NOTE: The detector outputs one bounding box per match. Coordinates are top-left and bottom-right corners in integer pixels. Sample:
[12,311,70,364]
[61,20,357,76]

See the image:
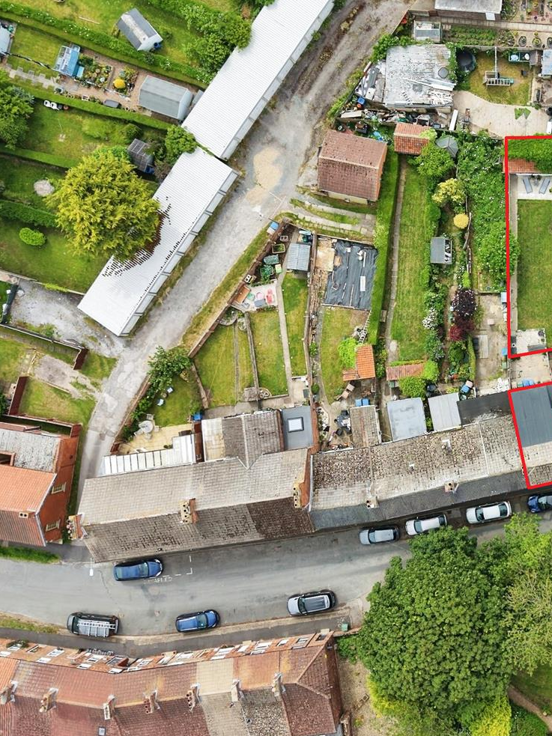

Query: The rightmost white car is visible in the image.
[466,500,513,525]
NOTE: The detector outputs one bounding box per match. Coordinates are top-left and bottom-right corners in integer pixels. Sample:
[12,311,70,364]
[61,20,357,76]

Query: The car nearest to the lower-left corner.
[68,610,121,639]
